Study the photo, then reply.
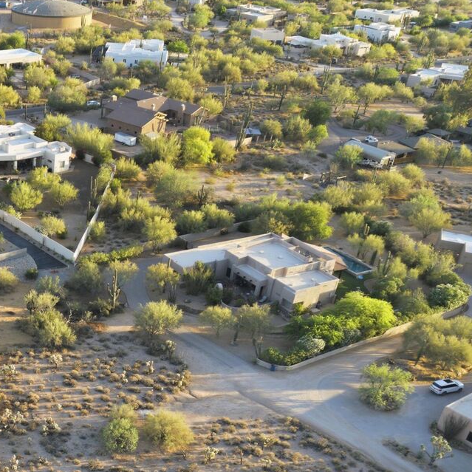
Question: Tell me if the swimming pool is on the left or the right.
right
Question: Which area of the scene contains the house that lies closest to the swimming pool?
center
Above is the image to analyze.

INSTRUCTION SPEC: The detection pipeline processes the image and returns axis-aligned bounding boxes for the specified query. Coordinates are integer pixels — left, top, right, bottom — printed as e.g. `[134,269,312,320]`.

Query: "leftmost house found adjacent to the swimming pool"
[162,232,346,315]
